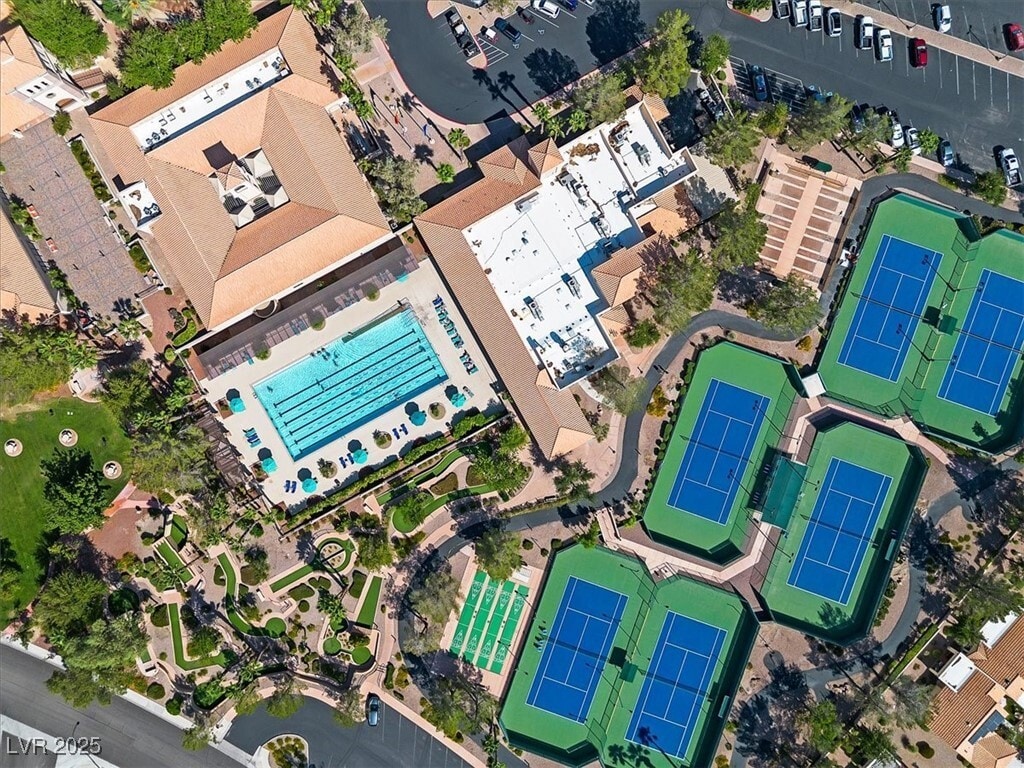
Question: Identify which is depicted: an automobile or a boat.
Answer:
automobile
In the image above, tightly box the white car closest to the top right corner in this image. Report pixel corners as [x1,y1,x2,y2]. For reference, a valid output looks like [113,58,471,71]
[936,4,952,33]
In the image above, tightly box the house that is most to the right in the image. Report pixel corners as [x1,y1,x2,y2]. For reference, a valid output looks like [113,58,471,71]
[926,602,1024,768]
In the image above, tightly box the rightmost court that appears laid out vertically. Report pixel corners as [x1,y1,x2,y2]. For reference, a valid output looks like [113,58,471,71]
[912,233,1024,453]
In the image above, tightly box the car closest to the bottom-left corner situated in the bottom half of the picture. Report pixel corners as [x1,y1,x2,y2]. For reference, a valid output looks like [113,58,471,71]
[368,696,380,725]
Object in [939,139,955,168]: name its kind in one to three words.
car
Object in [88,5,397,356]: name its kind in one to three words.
building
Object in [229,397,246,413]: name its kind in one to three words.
umbrella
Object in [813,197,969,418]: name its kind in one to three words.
tennis court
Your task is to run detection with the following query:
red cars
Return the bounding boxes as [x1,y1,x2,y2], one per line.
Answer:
[1007,23,1024,52]
[911,40,927,68]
